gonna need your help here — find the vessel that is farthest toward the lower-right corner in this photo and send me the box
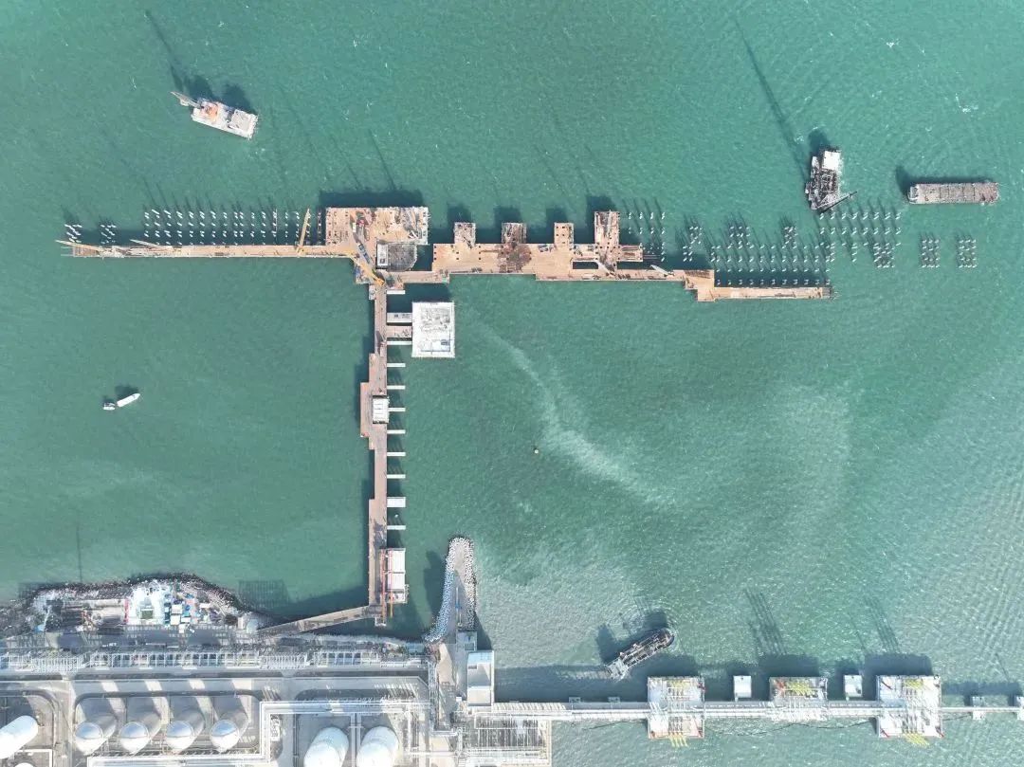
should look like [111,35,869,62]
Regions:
[610,630,677,686]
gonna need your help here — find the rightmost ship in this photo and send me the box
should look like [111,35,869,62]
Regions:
[909,181,1000,204]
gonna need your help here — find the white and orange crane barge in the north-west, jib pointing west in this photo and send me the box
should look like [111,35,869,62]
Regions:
[170,91,255,137]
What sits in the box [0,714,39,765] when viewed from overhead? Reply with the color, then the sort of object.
white storage tank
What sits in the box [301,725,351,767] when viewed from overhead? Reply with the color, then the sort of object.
white storage tank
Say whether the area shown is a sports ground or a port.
port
